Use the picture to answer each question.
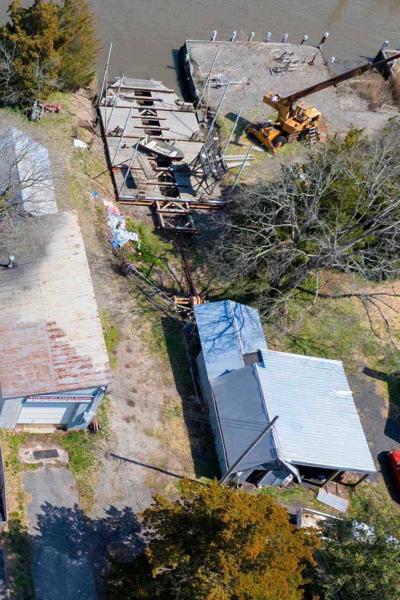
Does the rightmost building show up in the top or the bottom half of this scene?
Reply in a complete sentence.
You can find the rightmost building in the bottom half.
